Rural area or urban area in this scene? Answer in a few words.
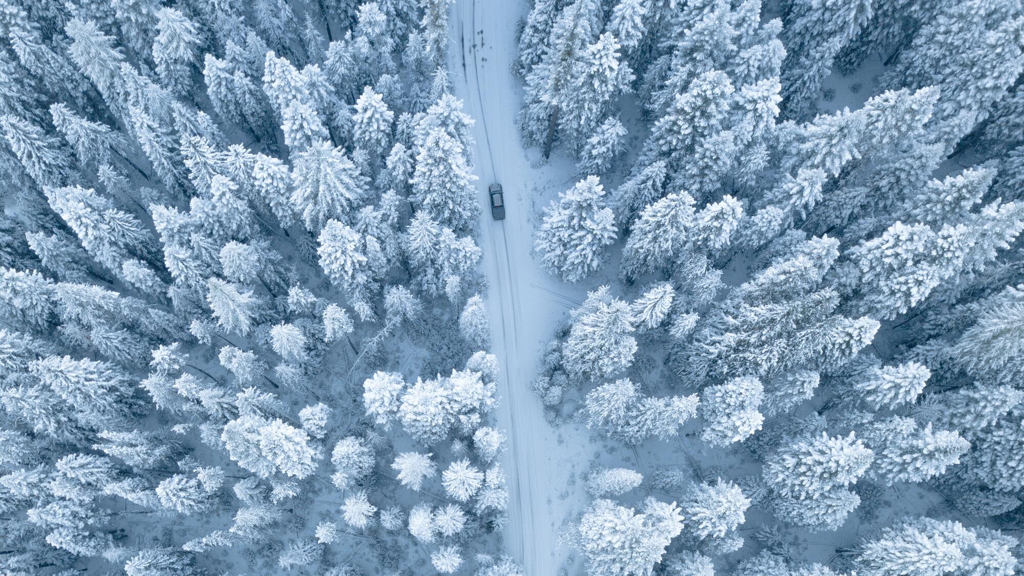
rural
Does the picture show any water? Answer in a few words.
No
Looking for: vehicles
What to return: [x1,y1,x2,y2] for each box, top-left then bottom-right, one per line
[490,184,508,222]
